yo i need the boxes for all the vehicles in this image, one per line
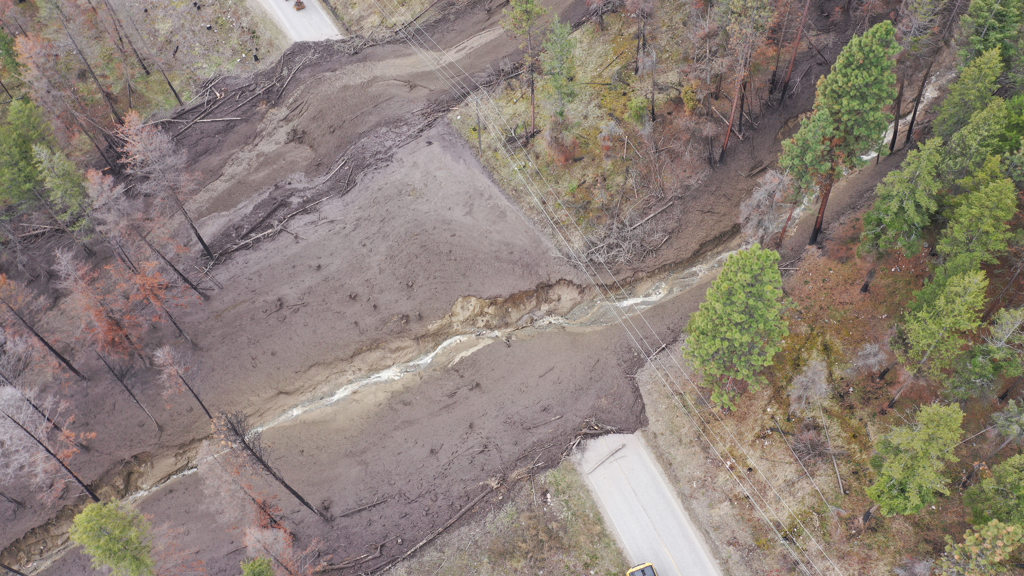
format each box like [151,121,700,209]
[625,561,661,576]
[292,0,307,15]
